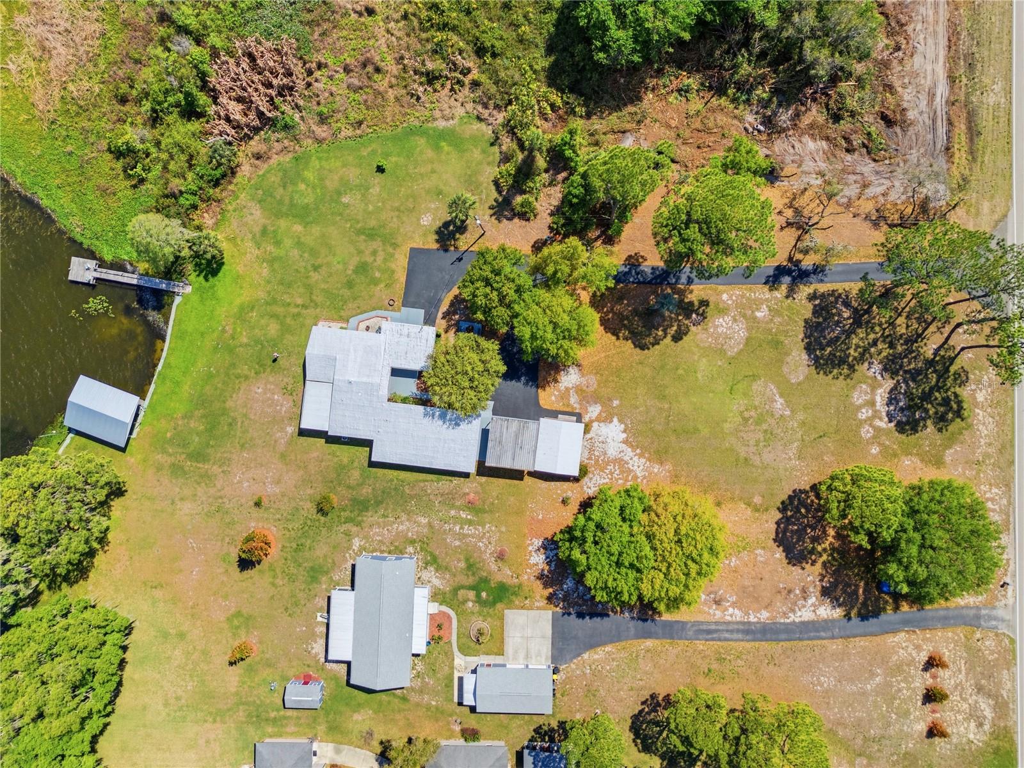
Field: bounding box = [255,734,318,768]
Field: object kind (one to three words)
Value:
house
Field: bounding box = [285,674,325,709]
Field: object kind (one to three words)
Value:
shed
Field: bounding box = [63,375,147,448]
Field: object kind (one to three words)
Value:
building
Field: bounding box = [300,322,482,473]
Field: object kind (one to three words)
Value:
house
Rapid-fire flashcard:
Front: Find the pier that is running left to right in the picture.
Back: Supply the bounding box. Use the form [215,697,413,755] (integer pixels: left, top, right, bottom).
[68,257,191,296]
